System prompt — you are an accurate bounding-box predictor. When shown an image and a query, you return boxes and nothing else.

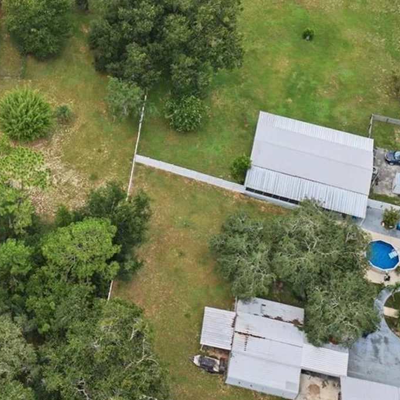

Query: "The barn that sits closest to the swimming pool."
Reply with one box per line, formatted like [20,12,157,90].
[245,112,377,238]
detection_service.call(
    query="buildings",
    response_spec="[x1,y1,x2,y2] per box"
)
[245,112,377,238]
[334,377,400,400]
[231,301,304,400]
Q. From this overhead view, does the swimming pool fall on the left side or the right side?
right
